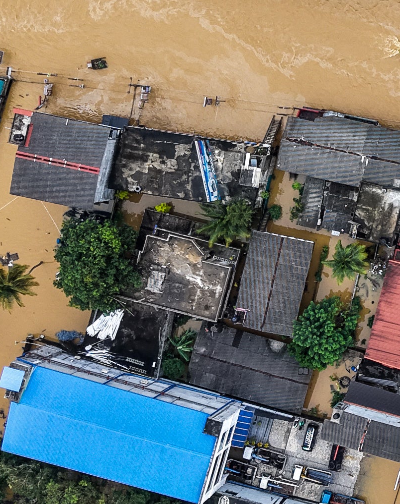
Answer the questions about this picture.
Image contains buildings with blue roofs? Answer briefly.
Yes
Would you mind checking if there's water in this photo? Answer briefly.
Yes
